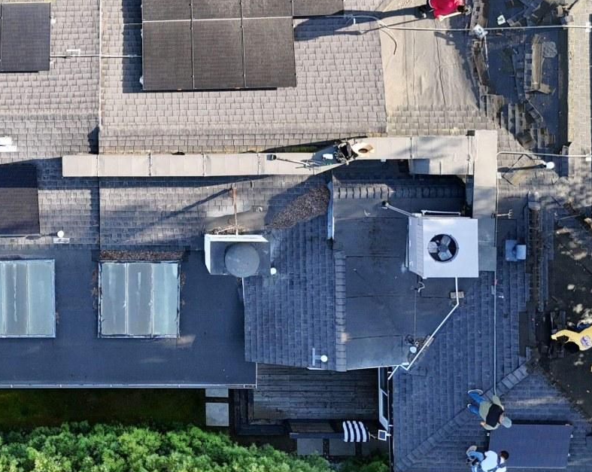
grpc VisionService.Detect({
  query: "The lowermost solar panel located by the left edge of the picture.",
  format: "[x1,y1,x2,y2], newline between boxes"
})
[0,163,40,234]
